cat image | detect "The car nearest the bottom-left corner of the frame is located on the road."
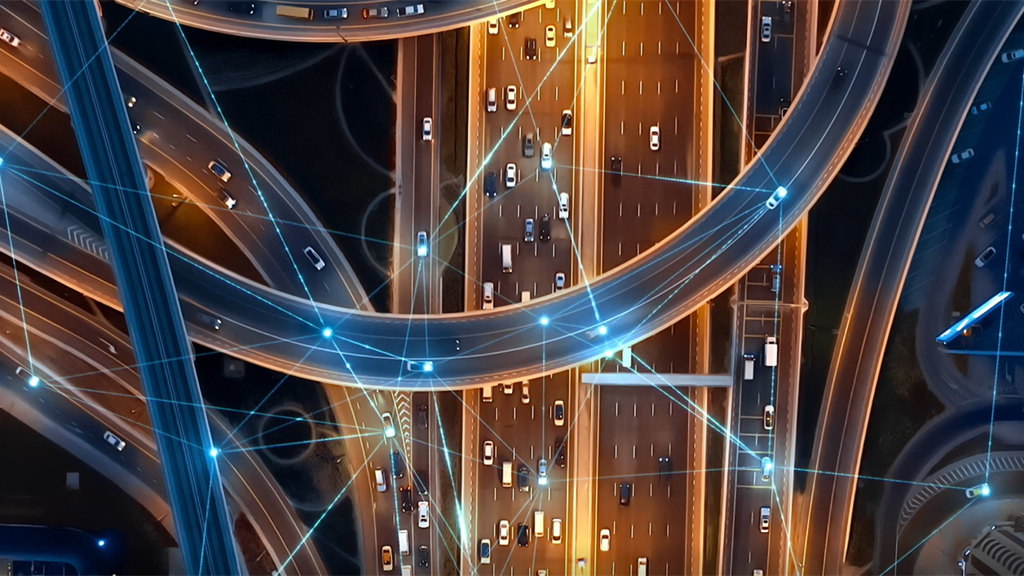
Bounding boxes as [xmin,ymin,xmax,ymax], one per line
[101,430,128,451]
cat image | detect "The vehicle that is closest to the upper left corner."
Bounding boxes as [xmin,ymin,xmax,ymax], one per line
[0,27,23,48]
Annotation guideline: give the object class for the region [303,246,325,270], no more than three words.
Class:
car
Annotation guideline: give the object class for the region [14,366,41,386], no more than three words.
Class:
car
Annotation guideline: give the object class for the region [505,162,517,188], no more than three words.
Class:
vehicle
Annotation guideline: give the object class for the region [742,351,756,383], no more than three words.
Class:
vehicle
